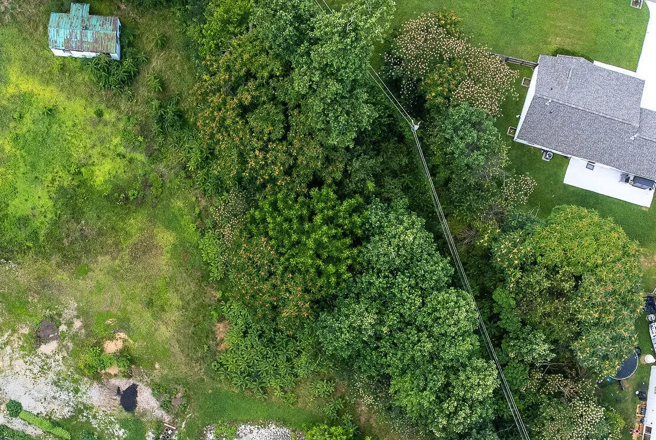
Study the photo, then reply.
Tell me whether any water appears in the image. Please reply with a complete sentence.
No, the scene doesn't show any water.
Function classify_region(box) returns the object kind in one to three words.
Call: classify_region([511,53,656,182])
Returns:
house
